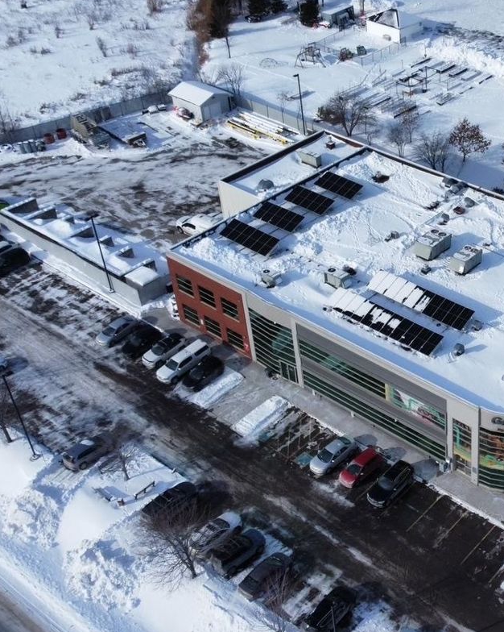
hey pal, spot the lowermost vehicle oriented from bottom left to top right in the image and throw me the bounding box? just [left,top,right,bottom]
[294,585,356,632]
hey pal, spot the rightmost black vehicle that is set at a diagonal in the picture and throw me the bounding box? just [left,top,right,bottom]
[364,461,415,508]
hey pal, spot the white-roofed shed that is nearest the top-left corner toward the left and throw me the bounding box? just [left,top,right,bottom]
[157,78,233,119]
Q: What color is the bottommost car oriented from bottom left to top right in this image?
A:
black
